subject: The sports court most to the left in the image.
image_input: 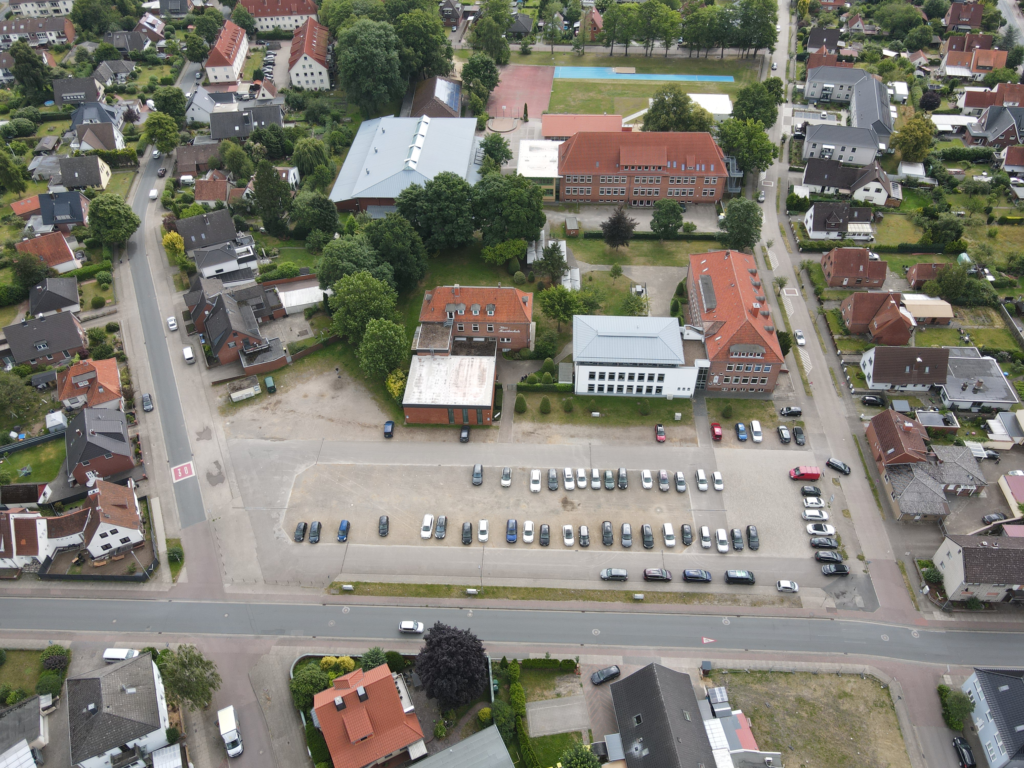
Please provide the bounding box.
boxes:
[486,65,554,119]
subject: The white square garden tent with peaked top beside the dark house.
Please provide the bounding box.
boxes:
[44,410,68,429]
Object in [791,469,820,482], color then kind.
red vehicle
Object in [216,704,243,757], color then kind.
white truck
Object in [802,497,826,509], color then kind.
white vehicle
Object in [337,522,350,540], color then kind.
blue vehicle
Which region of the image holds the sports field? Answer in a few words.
top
